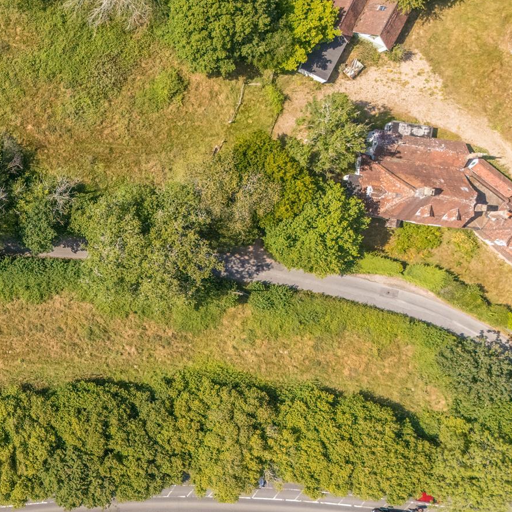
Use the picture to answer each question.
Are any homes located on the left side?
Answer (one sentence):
No, there's no home to be seen on the left side.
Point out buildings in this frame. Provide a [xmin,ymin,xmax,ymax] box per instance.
[291,30,348,84]
[340,133,504,229]
[350,0,414,51]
